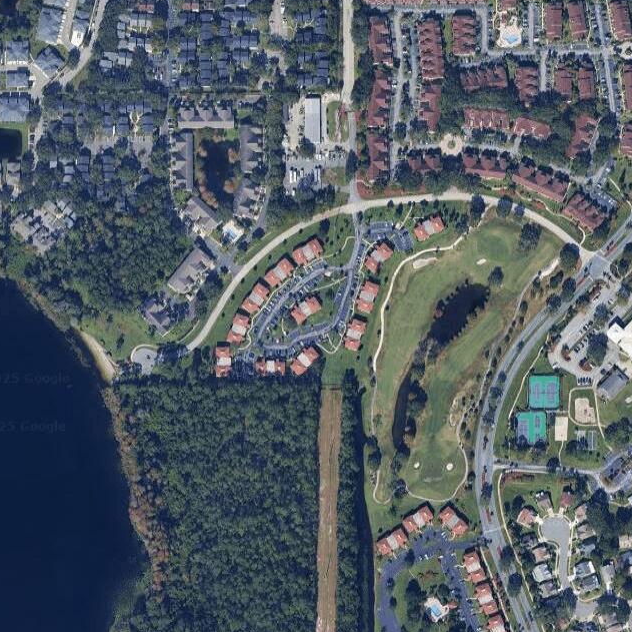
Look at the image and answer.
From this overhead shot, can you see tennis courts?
Yes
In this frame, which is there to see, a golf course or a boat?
golf course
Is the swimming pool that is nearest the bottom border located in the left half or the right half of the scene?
right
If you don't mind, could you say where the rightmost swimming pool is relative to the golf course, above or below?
above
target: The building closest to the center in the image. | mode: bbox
[291,293,323,325]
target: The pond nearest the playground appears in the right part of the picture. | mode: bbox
[393,281,490,455]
